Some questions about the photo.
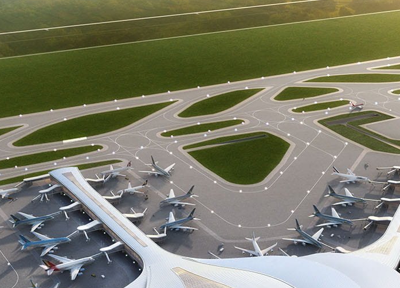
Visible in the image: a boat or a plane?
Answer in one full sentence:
I can see a plane in this picture.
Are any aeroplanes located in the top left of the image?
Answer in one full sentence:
No, there is no aeroplane in the top left of the image.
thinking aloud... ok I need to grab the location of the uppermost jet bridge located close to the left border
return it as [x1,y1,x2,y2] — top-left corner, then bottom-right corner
[13,175,50,187]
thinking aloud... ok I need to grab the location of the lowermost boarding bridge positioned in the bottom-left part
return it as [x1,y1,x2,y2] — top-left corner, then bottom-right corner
[92,243,124,264]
